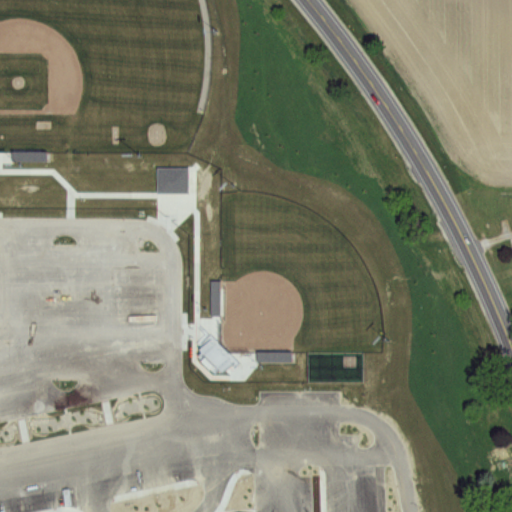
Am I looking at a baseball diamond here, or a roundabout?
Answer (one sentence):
Looking from above, you can make out a baseball diamond.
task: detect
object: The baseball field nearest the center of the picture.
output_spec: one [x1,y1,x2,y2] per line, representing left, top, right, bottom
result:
[222,191,383,352]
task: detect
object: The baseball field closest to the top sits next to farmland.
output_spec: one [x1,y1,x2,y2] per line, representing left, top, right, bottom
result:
[0,0,204,153]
